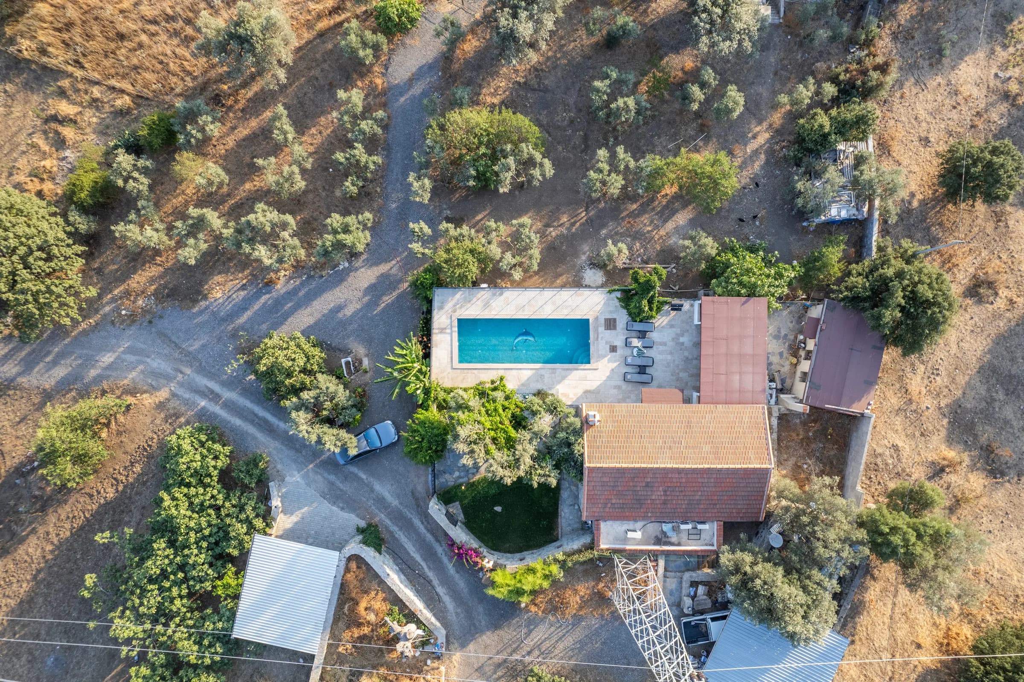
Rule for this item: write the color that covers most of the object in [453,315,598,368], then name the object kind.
blue swimming pool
